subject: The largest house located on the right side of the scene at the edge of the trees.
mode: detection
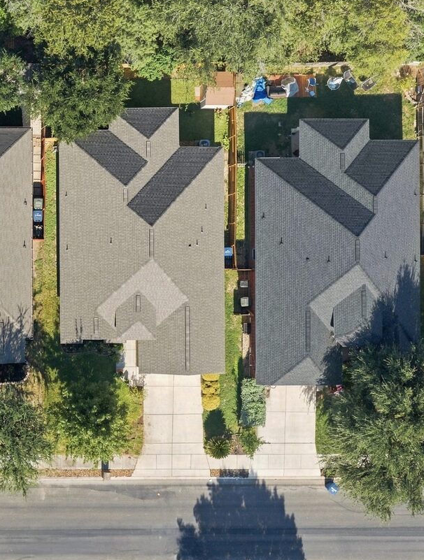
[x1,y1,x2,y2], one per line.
[248,117,420,387]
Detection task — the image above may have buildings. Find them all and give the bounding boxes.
[199,71,237,108]
[59,107,226,376]
[248,117,420,387]
[0,125,33,364]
